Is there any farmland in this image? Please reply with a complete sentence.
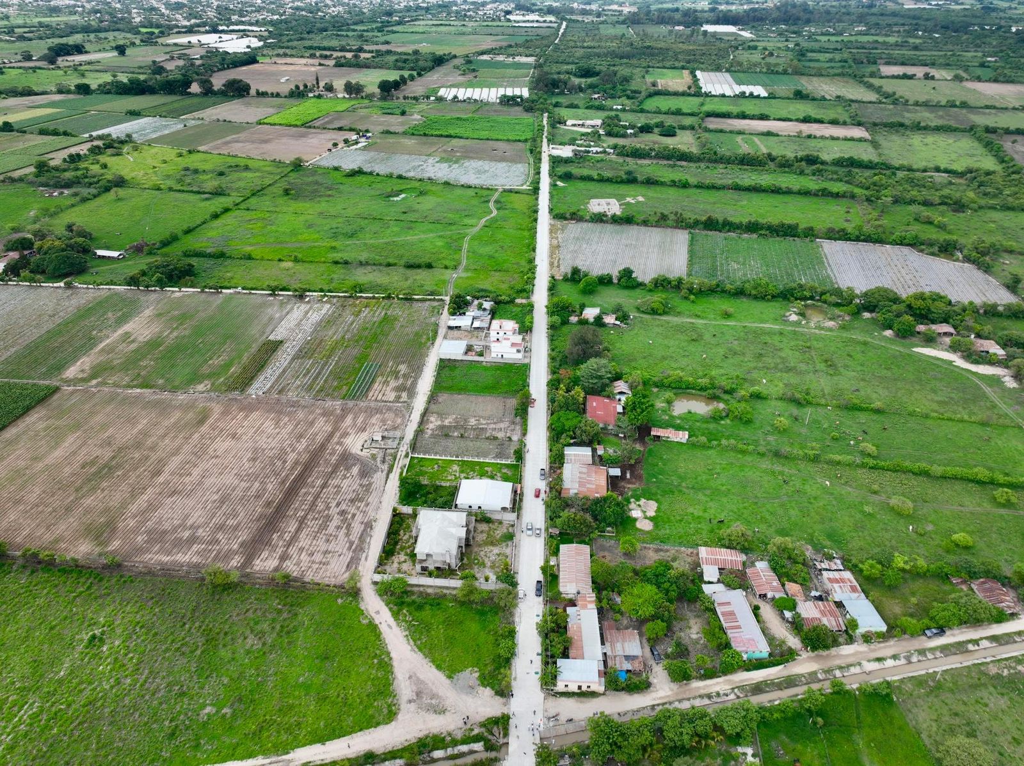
Yes, the picture does contain farmland.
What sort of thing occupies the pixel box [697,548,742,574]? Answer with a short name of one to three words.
shed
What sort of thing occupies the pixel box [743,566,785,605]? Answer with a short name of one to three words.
barn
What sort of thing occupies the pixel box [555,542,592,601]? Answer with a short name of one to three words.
house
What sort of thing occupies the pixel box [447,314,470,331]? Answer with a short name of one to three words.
house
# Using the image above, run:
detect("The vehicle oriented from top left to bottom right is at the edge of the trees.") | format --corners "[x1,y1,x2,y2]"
[647,643,664,664]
